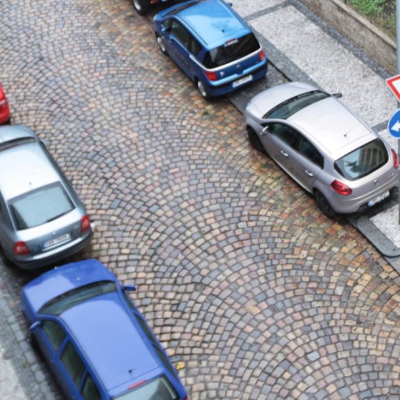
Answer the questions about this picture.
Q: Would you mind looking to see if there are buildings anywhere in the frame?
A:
No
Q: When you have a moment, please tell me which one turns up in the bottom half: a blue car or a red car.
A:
blue car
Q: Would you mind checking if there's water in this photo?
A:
No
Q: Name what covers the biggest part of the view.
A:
paved ground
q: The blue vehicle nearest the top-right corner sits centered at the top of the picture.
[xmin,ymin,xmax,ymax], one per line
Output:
[157,0,277,104]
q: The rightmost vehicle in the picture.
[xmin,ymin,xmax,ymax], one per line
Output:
[255,90,399,221]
